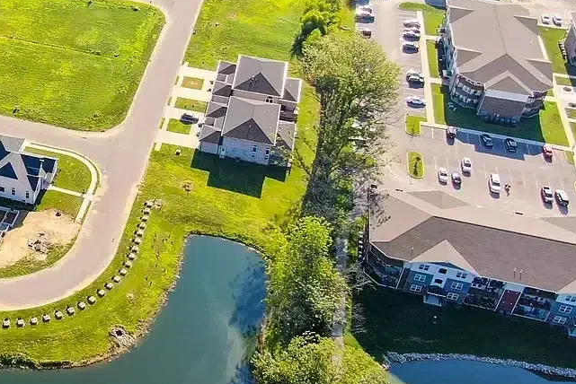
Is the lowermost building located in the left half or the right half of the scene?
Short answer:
right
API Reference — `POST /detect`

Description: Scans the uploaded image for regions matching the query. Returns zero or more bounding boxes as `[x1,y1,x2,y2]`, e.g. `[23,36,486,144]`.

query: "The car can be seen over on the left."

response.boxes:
[178,110,199,123]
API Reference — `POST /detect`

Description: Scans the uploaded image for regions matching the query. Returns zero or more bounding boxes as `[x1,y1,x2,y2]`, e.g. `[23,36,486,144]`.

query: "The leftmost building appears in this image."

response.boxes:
[0,125,65,204]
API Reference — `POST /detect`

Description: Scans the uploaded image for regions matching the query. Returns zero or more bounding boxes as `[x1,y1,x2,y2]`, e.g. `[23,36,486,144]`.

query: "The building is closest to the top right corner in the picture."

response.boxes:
[443,0,557,121]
